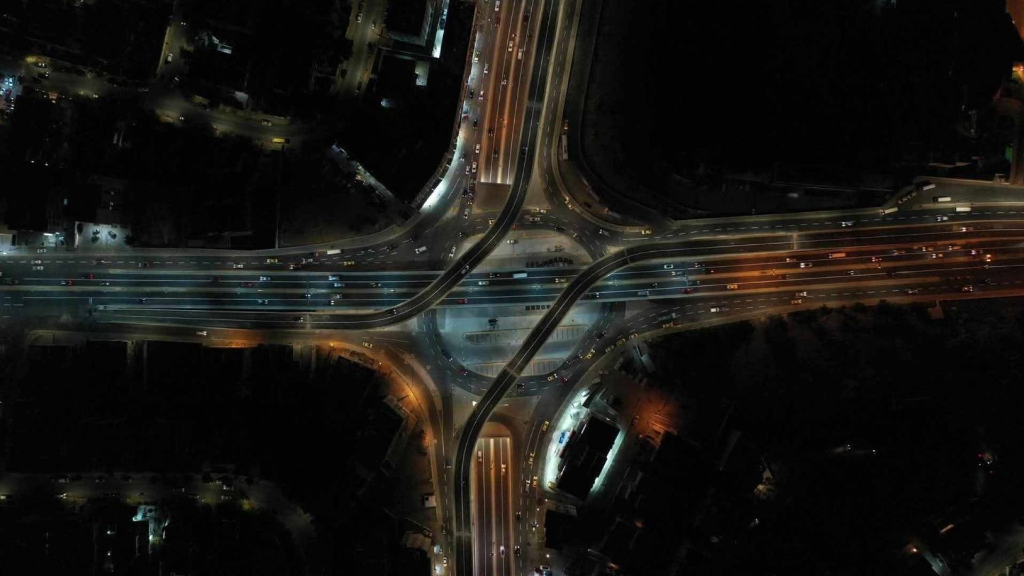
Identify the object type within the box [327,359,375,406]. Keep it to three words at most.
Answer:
house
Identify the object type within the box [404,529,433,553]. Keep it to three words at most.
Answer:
house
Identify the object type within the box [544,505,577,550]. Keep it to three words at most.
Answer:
building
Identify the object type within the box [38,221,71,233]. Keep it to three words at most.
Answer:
building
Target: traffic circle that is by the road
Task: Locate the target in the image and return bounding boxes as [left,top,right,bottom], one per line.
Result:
[417,209,624,398]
